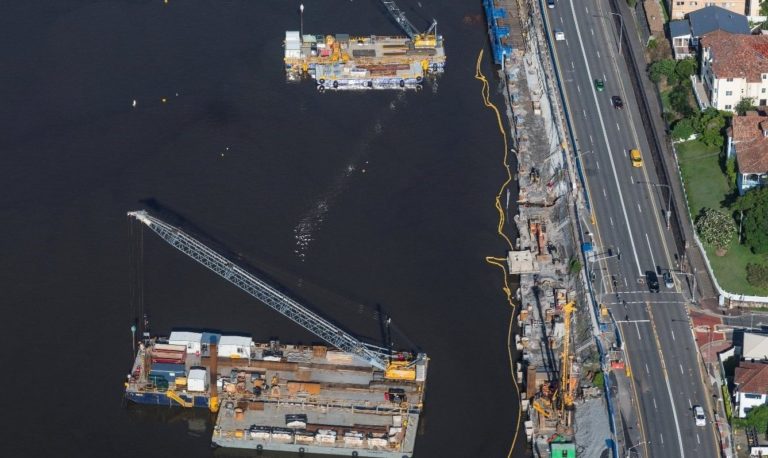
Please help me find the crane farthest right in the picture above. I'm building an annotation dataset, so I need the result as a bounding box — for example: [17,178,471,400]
[372,0,443,58]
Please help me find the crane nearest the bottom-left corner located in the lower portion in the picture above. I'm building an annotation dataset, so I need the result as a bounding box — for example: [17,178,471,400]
[125,208,428,391]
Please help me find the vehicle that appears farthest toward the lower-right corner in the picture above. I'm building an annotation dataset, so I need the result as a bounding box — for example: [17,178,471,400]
[692,408,706,425]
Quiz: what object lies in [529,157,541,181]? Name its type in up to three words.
vehicle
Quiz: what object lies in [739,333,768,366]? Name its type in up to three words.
building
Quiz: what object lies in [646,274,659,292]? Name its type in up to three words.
vehicle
